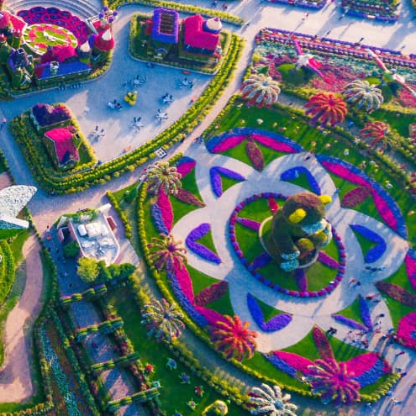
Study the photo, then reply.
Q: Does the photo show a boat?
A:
No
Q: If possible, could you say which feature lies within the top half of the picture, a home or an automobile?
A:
home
